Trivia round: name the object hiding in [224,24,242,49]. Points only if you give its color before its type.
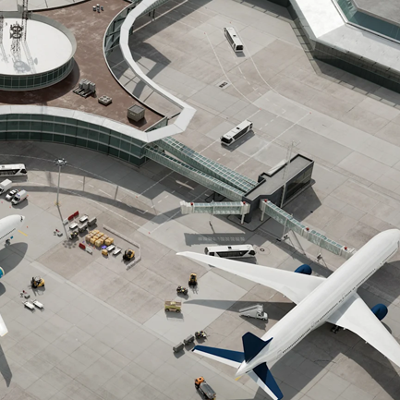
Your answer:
white vehicle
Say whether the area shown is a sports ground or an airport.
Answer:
airport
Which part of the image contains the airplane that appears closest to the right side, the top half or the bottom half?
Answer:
bottom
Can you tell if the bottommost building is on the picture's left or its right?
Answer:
right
